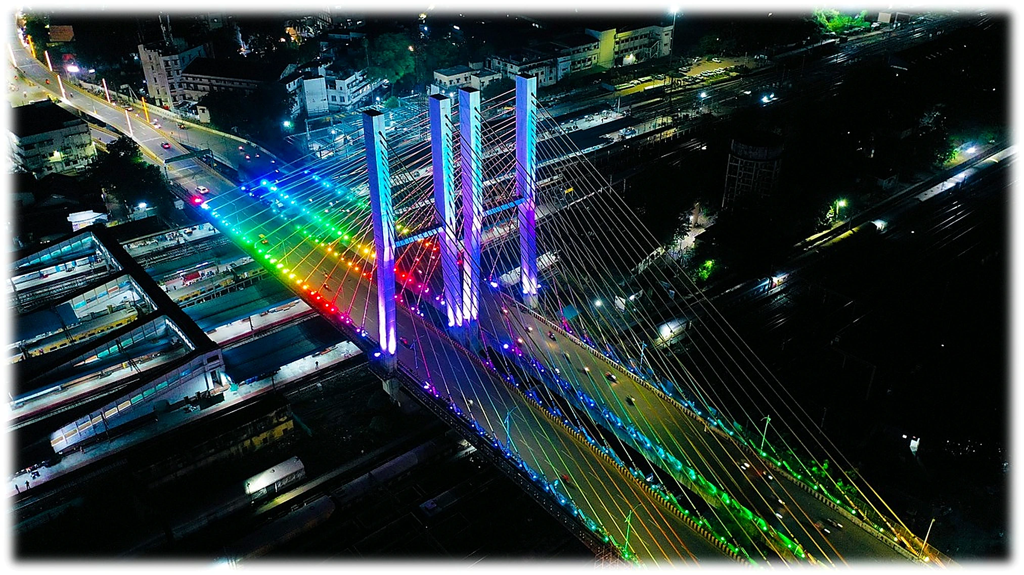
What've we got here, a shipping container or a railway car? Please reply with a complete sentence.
The one in the frame is a railway car.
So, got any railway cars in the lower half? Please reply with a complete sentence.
Yes, a railway car shows up in the lower half.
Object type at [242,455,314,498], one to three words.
rail car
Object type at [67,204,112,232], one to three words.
building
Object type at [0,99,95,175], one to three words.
building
